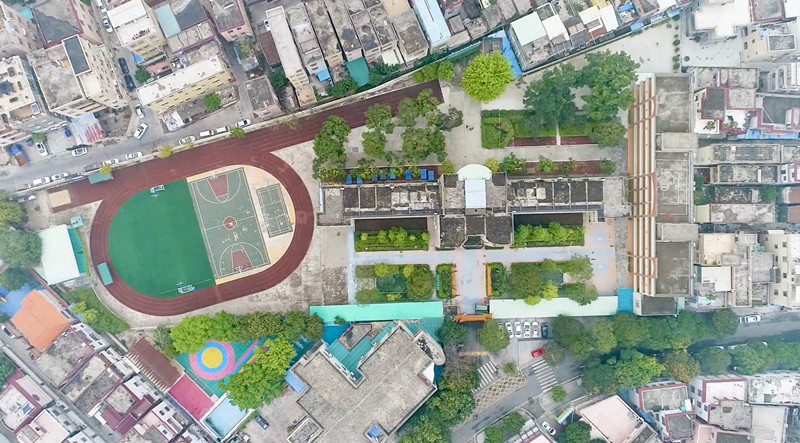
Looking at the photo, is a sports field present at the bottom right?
No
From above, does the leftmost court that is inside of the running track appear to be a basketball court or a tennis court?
basketball court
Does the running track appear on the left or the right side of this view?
left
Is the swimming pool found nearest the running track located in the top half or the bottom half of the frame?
bottom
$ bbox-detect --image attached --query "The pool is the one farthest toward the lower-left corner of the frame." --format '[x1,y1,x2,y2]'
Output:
[201,395,248,441]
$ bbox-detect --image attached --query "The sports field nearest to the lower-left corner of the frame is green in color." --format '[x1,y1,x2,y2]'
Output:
[108,178,212,298]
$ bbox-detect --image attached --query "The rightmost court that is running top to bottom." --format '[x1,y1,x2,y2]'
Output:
[256,184,292,238]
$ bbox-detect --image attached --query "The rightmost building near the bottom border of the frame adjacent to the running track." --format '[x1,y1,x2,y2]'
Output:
[297,319,446,443]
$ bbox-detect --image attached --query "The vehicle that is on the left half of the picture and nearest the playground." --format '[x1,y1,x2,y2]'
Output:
[255,413,270,430]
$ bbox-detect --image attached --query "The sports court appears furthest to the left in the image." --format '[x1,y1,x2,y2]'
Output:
[168,373,216,422]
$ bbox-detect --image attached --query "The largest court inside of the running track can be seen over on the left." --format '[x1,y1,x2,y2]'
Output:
[186,165,271,283]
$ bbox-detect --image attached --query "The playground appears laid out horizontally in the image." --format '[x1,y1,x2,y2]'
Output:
[179,331,321,403]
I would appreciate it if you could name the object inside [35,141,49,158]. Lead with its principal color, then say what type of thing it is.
white car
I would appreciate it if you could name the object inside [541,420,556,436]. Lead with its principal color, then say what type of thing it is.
white car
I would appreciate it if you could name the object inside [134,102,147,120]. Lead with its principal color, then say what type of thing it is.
white vehicle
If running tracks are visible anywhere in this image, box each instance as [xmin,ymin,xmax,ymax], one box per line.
[48,80,443,316]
